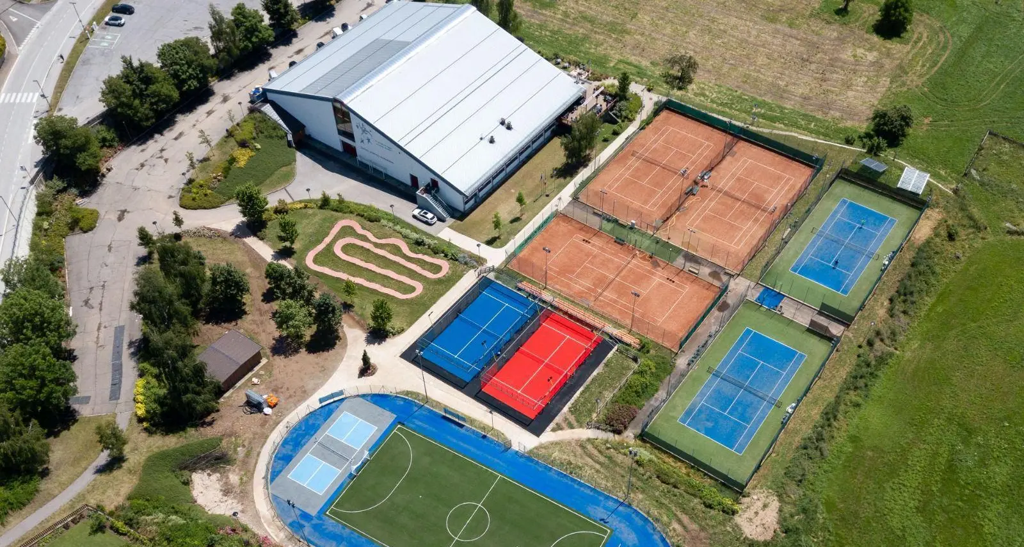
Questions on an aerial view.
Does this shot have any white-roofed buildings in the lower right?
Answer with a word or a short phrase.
No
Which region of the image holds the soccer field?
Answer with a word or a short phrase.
bottom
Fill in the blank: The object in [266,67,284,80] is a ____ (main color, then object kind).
white vehicle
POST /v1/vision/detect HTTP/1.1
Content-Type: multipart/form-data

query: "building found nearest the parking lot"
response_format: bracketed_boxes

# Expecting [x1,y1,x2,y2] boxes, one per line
[263,3,584,213]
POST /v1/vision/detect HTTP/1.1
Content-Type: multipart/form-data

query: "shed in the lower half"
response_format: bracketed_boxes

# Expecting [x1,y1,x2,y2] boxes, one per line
[194,322,260,383]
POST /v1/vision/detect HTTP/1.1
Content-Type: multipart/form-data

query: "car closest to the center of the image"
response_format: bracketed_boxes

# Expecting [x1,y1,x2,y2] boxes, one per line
[413,209,437,224]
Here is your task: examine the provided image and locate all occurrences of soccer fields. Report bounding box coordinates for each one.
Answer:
[323,422,616,547]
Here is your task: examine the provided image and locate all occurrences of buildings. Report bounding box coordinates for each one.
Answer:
[263,3,584,213]
[194,322,260,383]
